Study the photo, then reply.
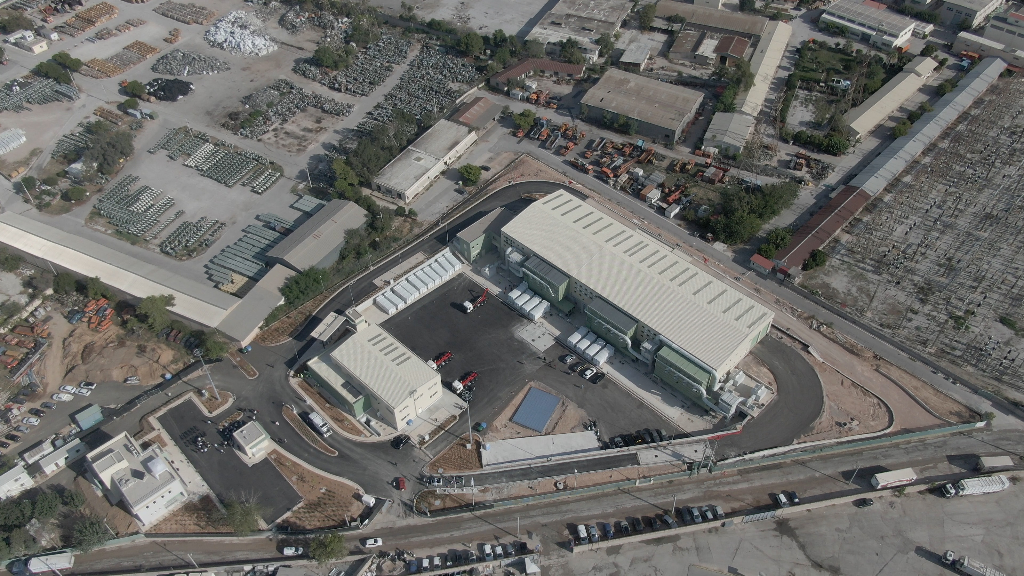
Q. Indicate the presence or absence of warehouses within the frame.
Yes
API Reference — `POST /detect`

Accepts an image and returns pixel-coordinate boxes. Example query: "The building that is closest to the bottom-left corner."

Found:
[0,465,39,506]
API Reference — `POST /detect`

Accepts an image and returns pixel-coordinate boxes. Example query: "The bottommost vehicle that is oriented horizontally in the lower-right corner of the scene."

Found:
[943,552,1016,576]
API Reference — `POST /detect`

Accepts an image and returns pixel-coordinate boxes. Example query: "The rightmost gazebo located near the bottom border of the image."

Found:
[522,554,543,576]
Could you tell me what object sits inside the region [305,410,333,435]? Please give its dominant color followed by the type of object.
white truck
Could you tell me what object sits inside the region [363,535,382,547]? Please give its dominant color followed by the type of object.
white vehicle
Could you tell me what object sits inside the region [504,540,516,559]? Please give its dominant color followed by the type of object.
gray vehicle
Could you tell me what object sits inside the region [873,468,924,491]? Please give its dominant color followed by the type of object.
white trailer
